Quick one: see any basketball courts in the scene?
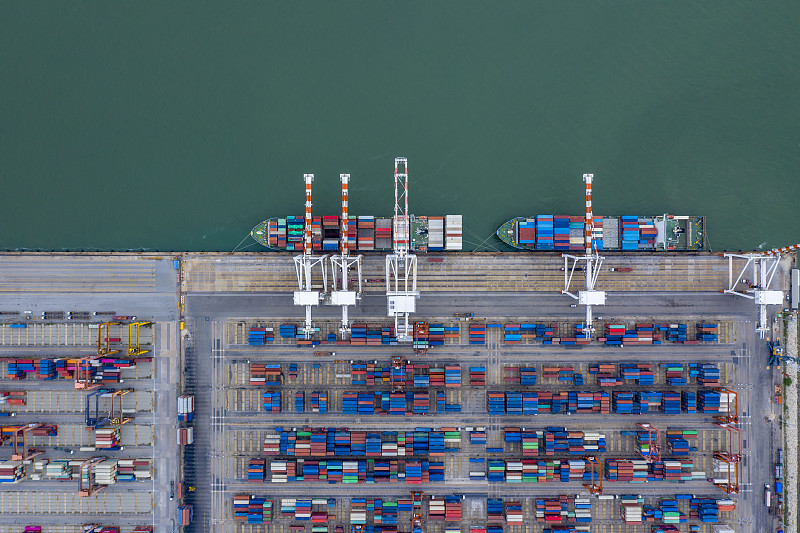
No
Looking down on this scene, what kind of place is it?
port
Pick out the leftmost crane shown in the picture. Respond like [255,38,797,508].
[11,421,45,461]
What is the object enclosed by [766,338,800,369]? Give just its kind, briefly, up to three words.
crane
